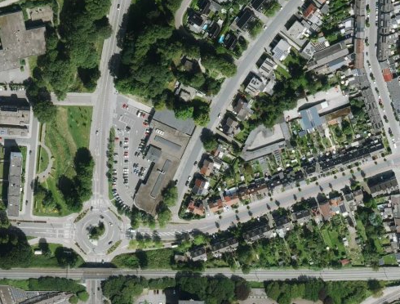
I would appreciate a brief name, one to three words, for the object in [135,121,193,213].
building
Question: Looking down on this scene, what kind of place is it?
residential area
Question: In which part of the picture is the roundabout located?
bottom left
